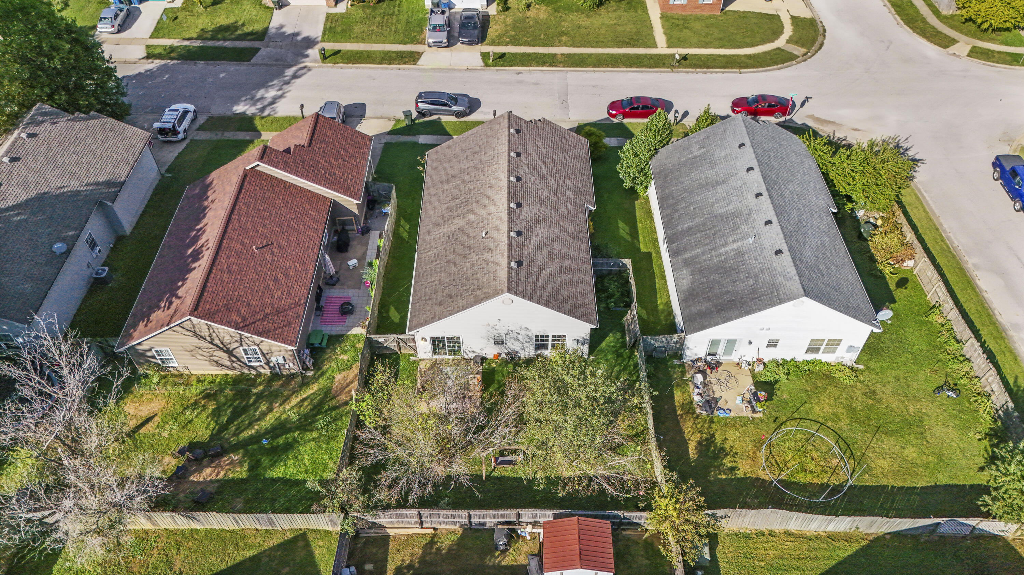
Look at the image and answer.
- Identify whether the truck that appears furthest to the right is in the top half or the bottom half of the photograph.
top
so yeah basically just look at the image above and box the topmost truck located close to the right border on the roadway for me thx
[992,157,1024,213]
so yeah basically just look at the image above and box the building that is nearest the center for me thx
[405,112,601,359]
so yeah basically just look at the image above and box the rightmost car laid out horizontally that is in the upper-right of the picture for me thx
[730,92,794,119]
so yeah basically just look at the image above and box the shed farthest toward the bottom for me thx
[543,515,616,575]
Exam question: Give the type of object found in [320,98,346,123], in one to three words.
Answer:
car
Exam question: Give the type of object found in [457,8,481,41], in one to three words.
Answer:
car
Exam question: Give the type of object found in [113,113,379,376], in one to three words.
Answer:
house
